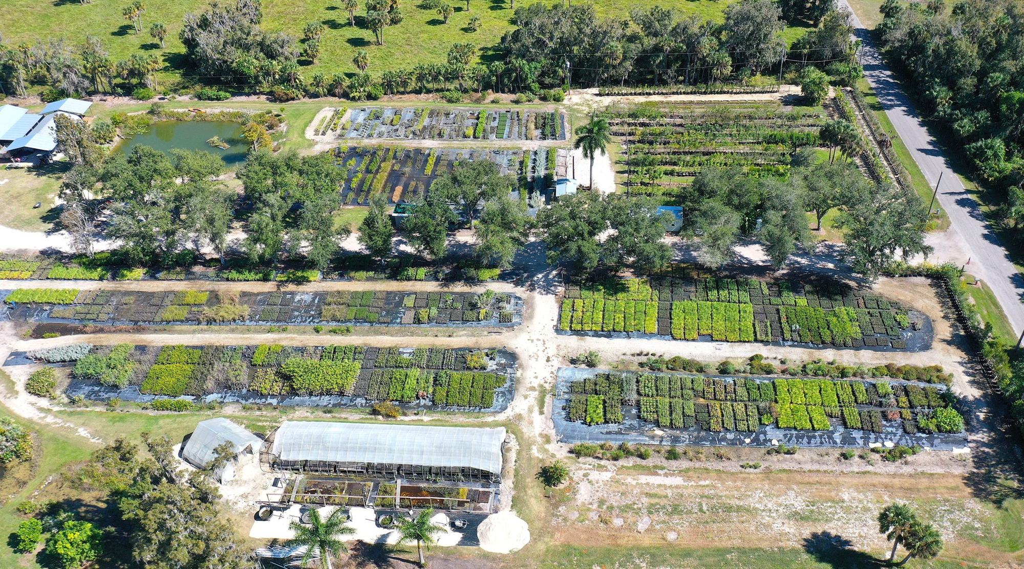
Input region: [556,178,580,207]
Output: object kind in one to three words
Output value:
shed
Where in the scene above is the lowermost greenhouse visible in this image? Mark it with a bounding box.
[258,416,505,482]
